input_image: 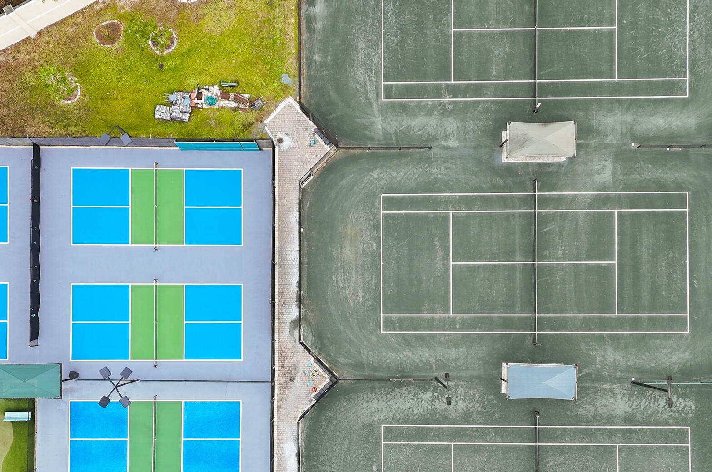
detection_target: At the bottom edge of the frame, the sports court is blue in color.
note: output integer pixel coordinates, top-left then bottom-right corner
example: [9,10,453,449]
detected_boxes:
[68,400,242,472]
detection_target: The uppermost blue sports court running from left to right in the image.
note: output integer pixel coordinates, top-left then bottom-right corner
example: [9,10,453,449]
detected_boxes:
[71,167,243,246]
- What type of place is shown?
sports ground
